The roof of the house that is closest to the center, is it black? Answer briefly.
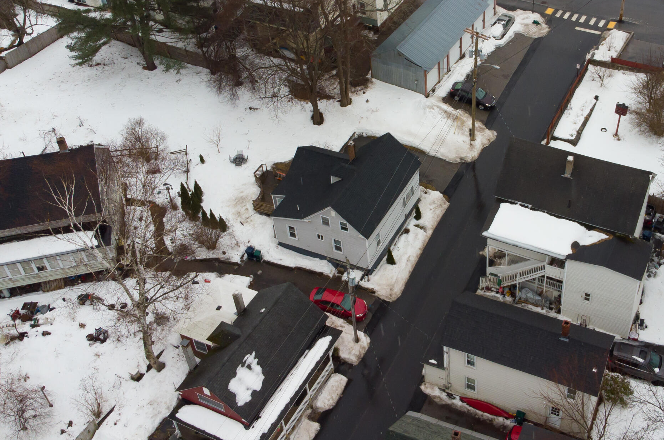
Yes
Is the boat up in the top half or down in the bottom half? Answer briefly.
bottom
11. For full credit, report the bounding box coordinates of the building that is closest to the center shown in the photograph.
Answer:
[270,132,422,263]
